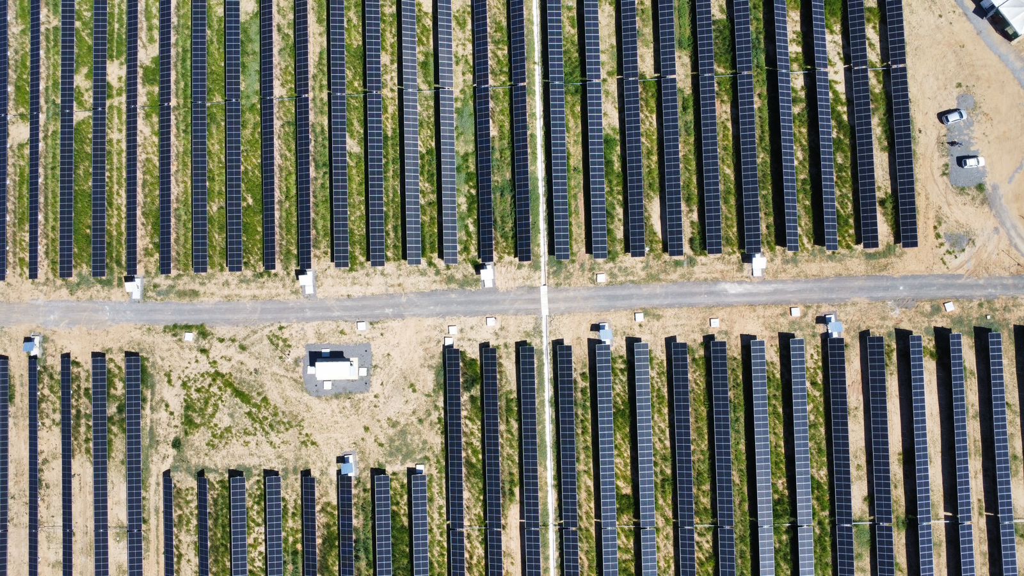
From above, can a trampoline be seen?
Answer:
No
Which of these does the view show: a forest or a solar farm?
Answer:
solar farm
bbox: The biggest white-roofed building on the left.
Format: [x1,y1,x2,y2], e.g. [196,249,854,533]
[315,359,357,380]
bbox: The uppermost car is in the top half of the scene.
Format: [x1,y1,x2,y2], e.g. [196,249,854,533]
[939,109,967,126]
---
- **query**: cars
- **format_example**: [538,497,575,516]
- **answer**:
[958,156,986,170]
[939,109,967,126]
